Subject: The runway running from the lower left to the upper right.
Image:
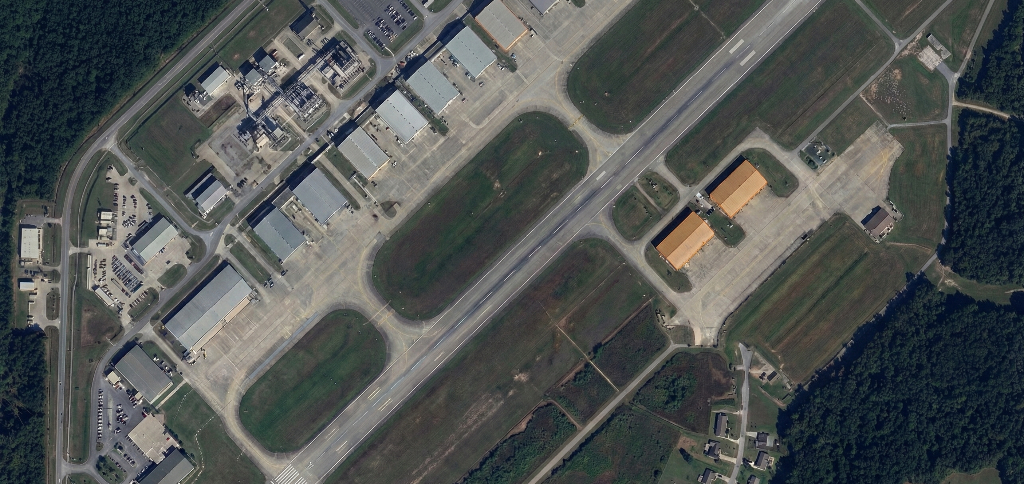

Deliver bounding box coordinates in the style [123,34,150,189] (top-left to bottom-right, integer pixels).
[268,0,821,484]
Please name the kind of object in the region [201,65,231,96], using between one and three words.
building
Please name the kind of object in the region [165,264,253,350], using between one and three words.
hangar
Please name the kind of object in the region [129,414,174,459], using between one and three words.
building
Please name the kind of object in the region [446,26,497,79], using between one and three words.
hangar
